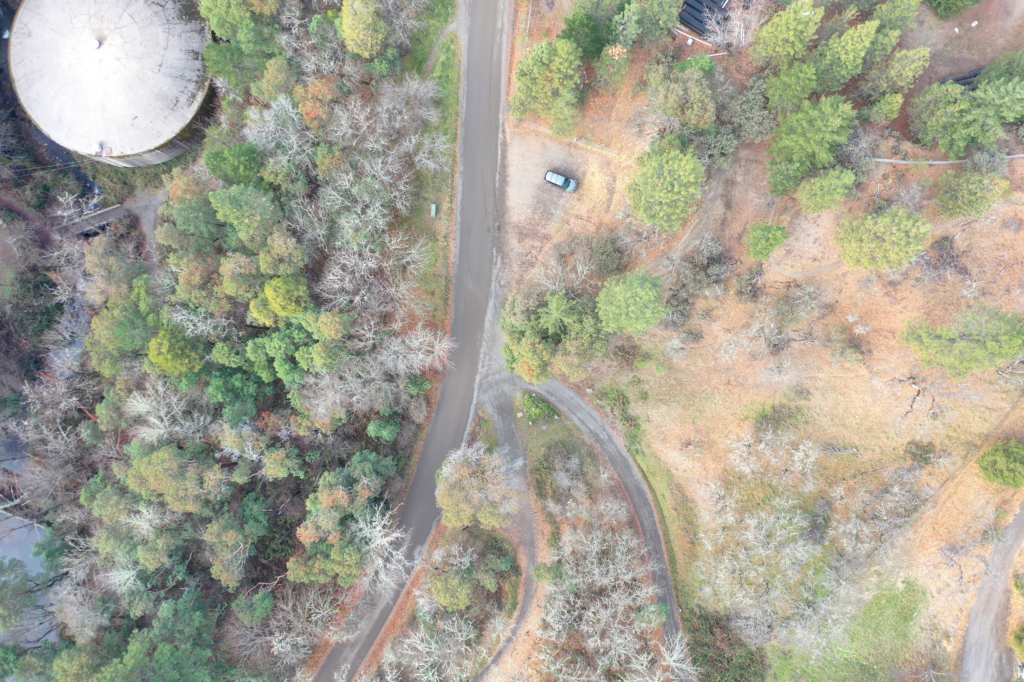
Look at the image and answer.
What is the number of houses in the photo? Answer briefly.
zero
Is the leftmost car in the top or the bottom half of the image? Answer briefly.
top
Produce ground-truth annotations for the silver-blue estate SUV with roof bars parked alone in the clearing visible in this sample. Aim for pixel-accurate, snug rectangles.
[543,168,578,191]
